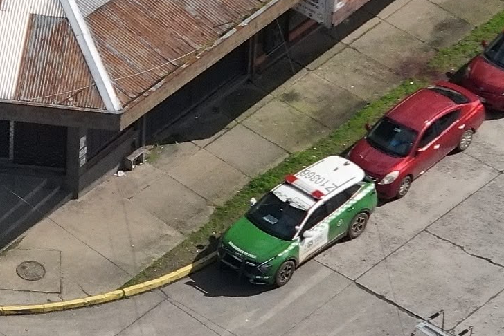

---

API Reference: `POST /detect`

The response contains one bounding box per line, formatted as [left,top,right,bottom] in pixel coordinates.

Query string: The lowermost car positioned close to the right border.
[342,85,482,202]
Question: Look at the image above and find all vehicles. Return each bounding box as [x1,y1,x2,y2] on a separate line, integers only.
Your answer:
[214,161,379,290]
[461,32,504,113]
[342,85,482,202]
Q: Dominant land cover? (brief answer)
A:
paved ground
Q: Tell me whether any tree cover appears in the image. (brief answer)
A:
No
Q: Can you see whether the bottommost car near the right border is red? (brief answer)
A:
Yes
